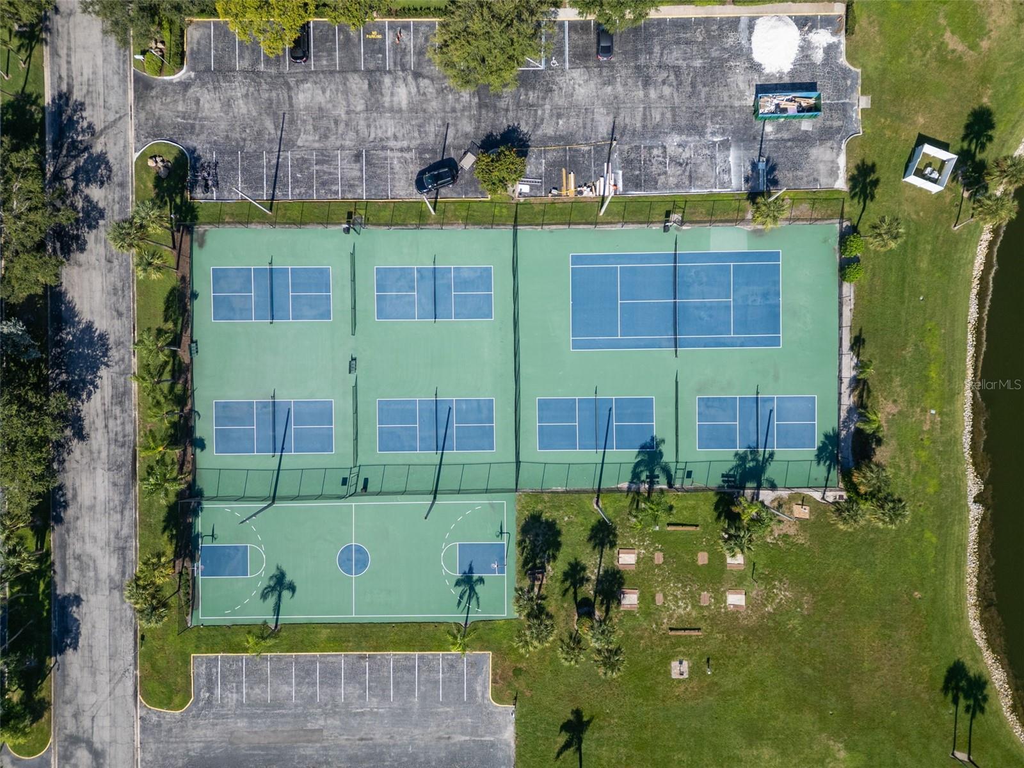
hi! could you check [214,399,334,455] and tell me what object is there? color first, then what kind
blue sports court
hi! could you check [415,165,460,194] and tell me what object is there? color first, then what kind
black car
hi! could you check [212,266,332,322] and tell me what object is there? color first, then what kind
blue sports court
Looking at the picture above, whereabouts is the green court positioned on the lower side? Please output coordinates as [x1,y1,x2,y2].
[191,492,516,629]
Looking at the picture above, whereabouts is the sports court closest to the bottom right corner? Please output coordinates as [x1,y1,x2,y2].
[697,395,817,451]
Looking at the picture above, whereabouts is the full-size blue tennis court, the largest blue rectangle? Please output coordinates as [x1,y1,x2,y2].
[570,250,782,351]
